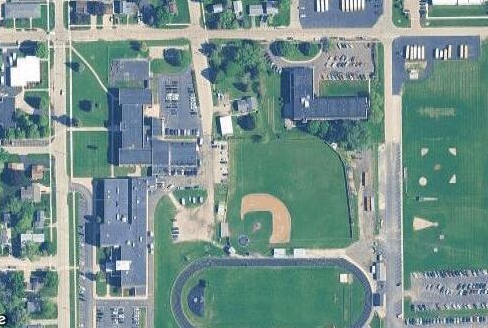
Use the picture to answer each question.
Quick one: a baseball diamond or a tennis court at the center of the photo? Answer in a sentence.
There is a baseball diamond at the center of the photo.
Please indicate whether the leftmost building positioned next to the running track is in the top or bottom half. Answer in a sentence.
The leftmost building positioned next to the running track is in the bottom half of the image.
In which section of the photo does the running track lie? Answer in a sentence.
The running track is located in the bottom region of the scene.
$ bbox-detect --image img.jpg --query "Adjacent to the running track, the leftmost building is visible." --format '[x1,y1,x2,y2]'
[100,179,147,288]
